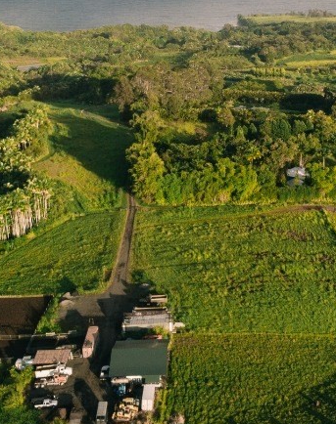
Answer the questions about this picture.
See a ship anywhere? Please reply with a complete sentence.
No, this view has no ship in it.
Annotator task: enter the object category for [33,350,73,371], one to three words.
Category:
shed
